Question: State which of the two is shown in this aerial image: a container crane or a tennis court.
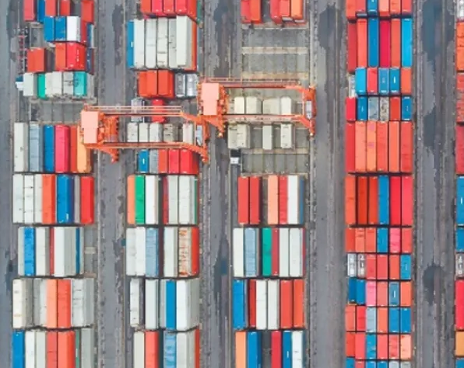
container crane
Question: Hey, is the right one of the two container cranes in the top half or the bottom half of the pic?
top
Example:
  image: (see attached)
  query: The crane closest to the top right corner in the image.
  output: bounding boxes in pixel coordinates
[196,78,317,137]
